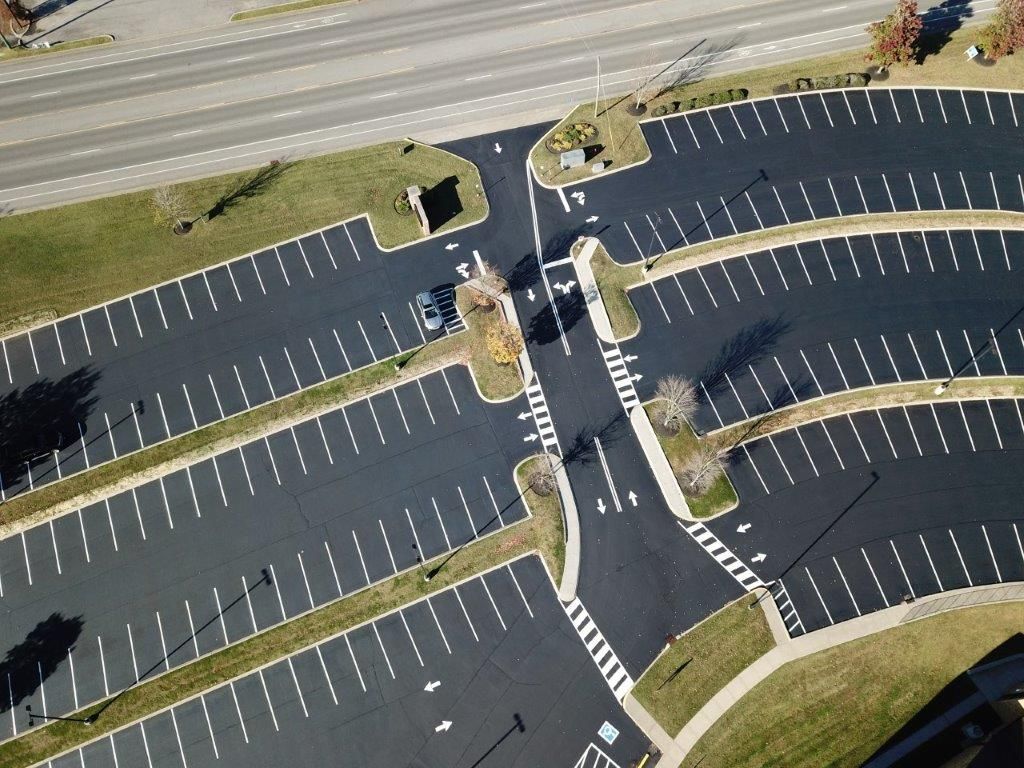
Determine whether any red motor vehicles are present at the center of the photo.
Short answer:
No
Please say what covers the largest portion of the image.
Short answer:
paved ground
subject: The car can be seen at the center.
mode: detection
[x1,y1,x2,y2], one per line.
[415,290,445,334]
